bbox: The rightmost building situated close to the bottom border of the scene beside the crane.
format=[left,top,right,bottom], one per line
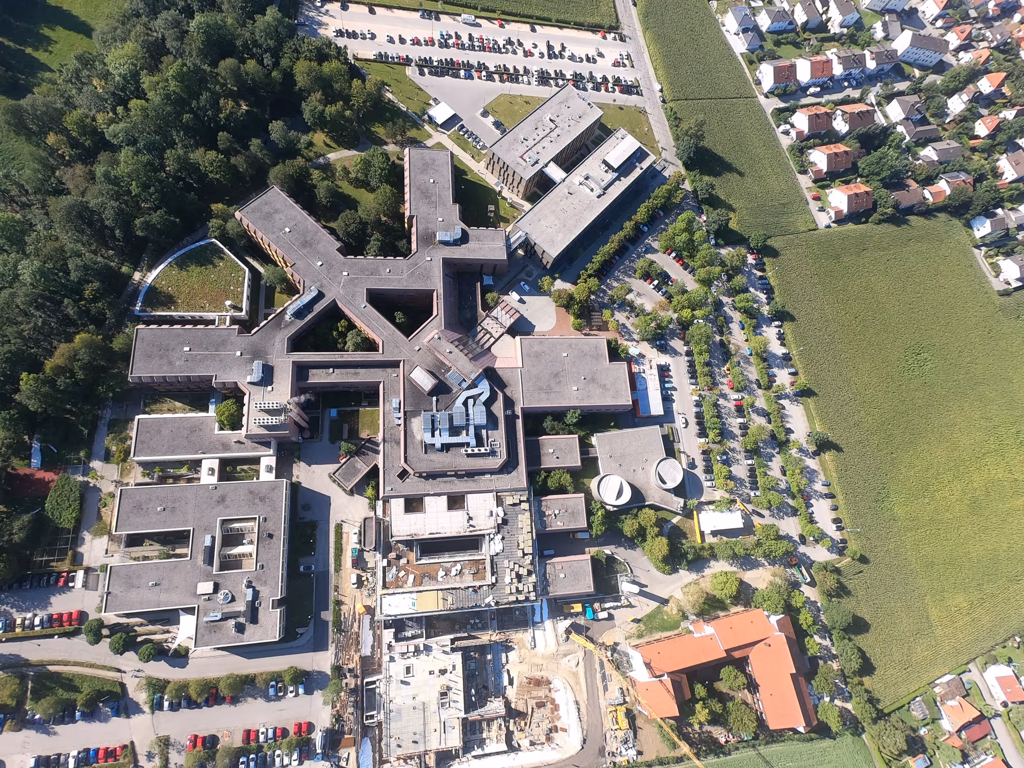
[623,608,815,730]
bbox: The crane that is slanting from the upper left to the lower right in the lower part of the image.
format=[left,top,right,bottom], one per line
[566,627,705,768]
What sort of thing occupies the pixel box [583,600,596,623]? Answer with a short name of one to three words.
vehicle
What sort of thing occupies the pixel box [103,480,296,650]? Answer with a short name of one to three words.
building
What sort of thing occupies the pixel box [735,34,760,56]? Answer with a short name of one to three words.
house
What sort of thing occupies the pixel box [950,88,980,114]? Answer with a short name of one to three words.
house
